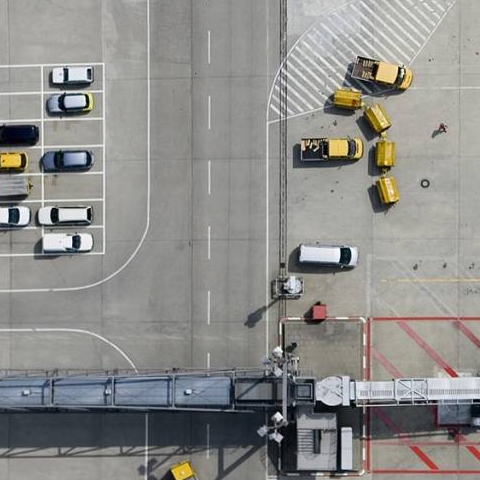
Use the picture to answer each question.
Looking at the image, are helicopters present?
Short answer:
No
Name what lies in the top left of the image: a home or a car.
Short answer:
car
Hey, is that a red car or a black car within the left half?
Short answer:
black car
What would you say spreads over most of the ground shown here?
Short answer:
paved ground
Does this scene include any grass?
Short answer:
No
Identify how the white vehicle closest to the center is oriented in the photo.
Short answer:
horizontally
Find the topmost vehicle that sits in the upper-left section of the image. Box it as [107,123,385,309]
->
[50,64,94,86]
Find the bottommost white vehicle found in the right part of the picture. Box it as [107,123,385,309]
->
[299,243,358,270]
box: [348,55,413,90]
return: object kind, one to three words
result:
truck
